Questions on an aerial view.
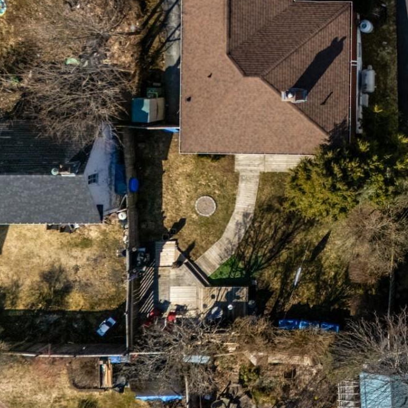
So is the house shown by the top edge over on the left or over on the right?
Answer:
right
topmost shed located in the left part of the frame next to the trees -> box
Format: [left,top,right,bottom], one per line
[132,98,175,122]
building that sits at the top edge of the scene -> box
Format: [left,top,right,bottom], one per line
[179,0,362,155]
